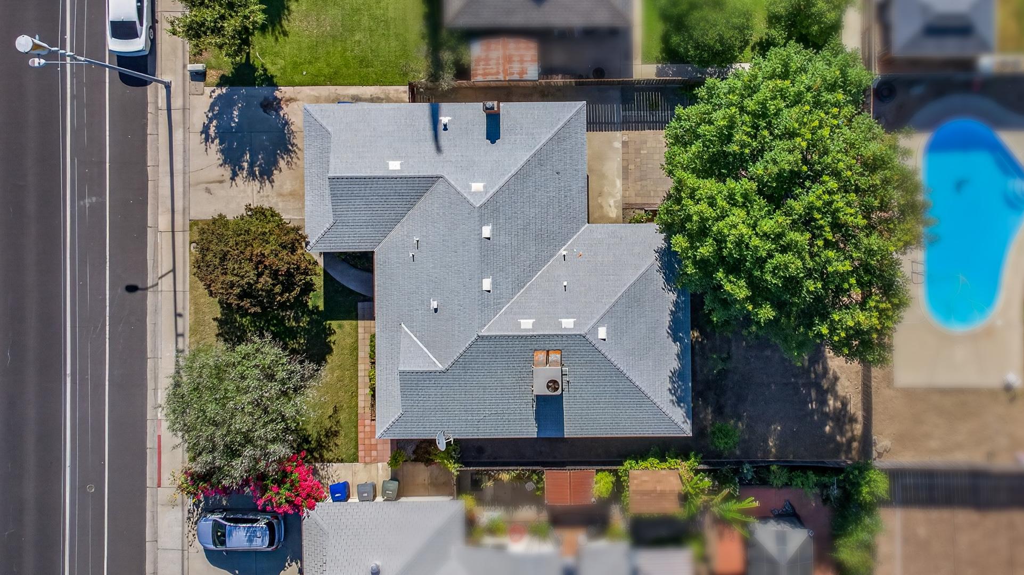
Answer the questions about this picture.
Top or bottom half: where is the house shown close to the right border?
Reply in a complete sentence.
Seen from above, the house shown close to the right border lies in the top half of the view.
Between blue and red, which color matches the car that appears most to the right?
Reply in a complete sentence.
The color of the car that appears most to the right is blue.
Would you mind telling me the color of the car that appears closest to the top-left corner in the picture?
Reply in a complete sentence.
The car that appears closest to the top-left corner is white.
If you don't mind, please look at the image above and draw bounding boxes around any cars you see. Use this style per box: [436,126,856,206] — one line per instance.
[197,509,288,559]
[108,0,156,56]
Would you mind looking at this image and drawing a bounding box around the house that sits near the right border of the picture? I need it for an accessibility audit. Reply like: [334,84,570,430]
[878,0,997,58]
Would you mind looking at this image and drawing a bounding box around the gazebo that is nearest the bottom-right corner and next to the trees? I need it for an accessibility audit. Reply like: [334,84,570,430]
[737,506,813,575]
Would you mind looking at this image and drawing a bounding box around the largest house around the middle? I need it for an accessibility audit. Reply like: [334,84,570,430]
[303,97,693,440]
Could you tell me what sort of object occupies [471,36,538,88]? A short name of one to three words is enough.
shed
